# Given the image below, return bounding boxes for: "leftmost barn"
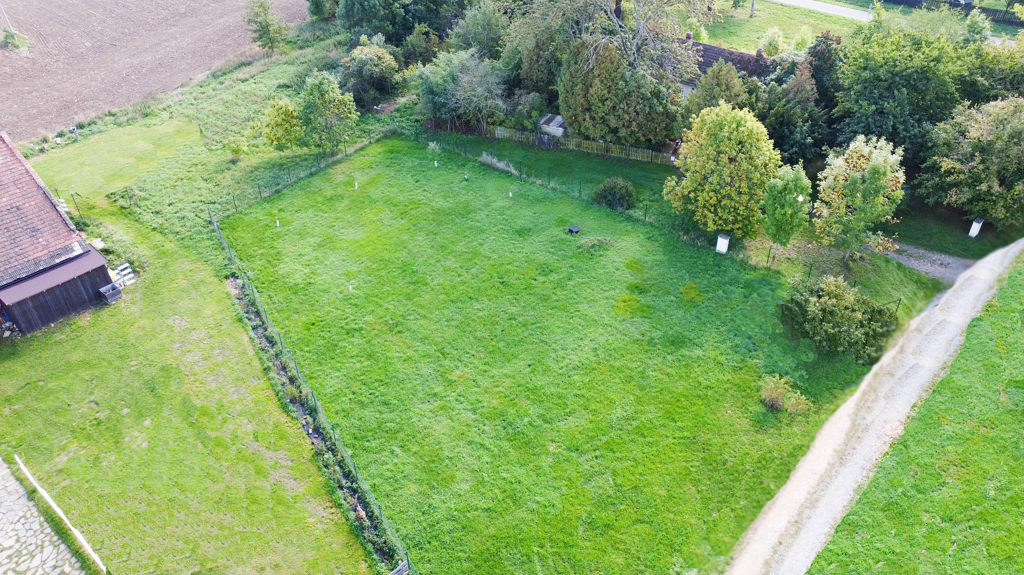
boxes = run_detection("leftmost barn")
[0,129,116,335]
